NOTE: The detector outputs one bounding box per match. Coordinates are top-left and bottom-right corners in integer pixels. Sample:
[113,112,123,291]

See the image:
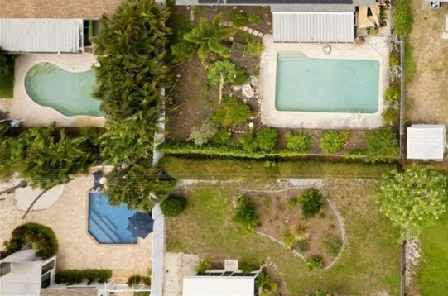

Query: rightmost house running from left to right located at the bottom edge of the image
[183,259,269,296]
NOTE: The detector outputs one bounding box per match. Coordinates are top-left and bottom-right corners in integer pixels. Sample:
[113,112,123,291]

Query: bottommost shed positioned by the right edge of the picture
[406,124,445,160]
